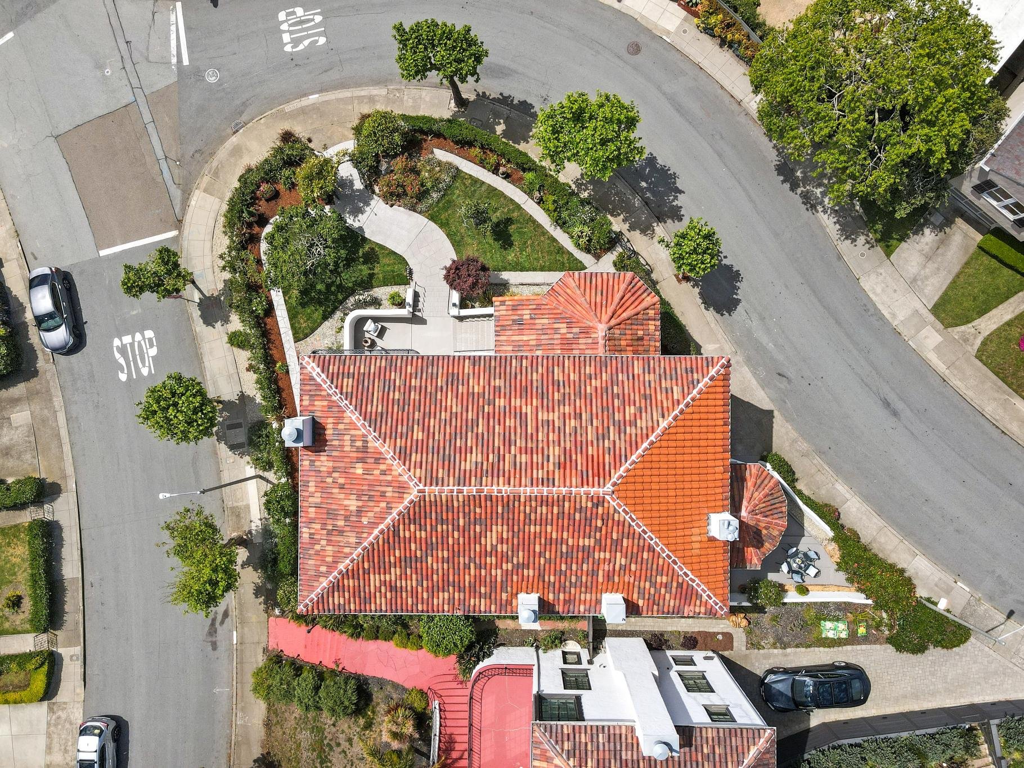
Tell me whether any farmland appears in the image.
No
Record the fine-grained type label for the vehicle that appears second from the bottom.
car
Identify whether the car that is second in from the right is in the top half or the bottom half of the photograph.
bottom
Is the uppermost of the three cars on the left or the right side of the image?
left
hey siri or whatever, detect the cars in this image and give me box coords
[71,713,123,768]
[757,657,870,715]
[27,263,82,355]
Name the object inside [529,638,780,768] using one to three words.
house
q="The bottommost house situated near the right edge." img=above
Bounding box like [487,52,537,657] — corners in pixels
[949,96,1024,245]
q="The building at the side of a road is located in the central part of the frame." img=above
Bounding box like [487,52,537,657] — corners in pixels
[281,269,790,624]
